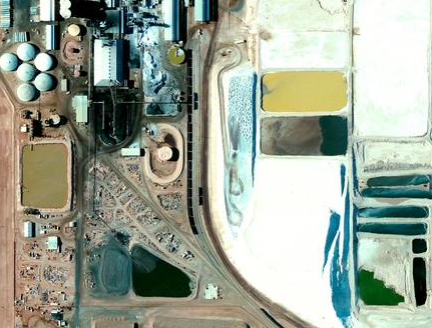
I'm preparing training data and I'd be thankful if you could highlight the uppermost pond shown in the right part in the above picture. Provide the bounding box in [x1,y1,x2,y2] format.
[262,70,347,111]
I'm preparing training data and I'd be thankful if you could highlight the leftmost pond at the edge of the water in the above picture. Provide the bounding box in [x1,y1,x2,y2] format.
[24,144,67,208]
